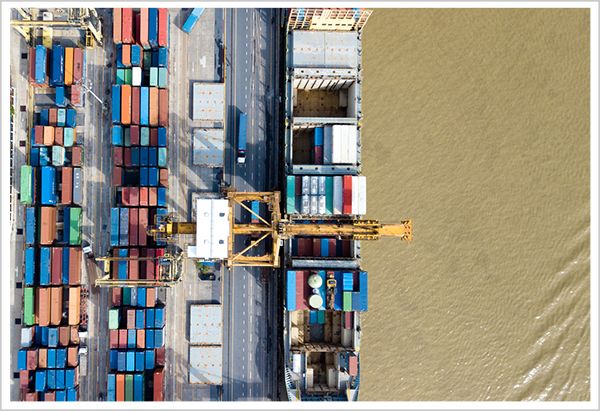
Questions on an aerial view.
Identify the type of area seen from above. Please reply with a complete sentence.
What you see here is a port.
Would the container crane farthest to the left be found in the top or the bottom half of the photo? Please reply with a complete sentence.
The container crane farthest to the left sits in the top half of the picture.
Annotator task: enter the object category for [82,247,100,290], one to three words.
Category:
vehicle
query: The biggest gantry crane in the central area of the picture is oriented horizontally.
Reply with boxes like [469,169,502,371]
[145,189,411,268]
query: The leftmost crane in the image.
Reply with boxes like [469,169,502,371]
[9,0,110,49]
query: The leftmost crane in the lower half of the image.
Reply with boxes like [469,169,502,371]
[97,246,188,287]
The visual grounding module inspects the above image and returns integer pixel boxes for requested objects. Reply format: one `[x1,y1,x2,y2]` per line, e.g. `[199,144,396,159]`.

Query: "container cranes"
[9,0,110,49]
[97,246,188,287]
[145,189,411,268]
